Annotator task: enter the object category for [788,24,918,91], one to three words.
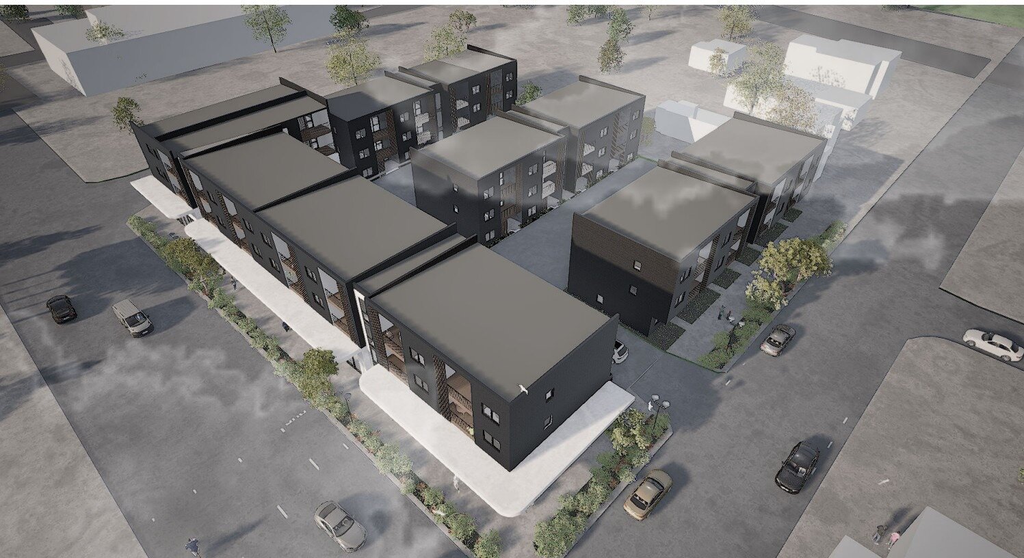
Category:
building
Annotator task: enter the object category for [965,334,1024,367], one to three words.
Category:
car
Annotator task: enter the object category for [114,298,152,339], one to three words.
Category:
van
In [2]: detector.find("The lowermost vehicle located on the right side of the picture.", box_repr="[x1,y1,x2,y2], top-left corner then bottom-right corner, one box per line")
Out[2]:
[624,472,670,522]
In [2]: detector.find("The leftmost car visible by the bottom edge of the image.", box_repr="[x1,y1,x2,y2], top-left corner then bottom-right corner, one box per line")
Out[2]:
[316,502,365,557]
